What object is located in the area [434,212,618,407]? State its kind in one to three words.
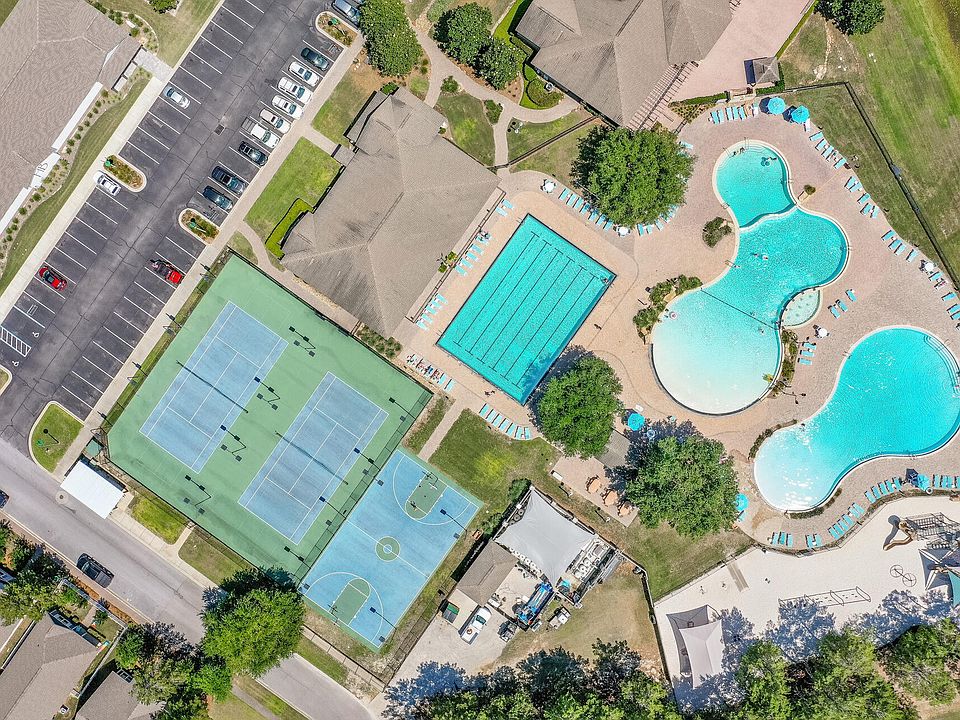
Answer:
swimming pool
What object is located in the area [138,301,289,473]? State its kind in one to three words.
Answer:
tennis court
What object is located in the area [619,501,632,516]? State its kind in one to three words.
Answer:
umbrella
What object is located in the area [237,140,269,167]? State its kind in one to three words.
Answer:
car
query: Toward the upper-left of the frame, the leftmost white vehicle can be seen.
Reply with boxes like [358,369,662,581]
[92,171,125,198]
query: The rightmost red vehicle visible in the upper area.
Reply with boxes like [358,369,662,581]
[150,257,185,285]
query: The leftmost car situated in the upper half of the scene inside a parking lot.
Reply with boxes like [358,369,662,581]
[38,265,68,290]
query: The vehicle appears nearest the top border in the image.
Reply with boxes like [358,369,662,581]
[330,0,360,24]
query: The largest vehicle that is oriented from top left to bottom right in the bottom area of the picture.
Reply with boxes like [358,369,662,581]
[75,554,116,589]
